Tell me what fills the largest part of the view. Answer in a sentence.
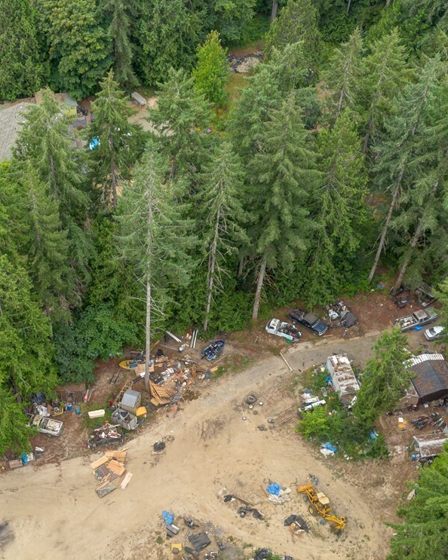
The scene is dominated by trees.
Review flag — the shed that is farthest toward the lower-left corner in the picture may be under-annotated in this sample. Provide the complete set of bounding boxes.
[119,387,143,409]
